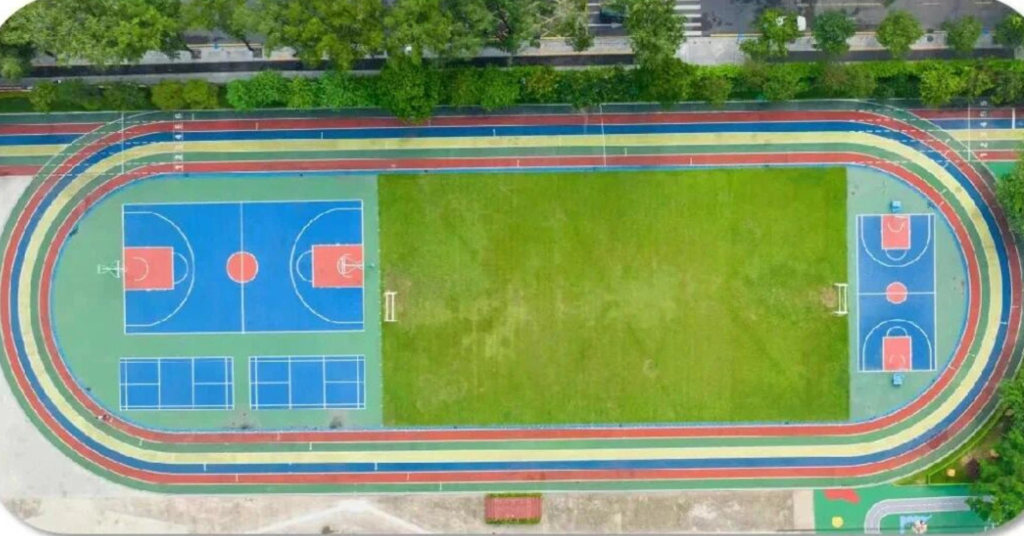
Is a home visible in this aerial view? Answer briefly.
No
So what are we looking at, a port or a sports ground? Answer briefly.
sports ground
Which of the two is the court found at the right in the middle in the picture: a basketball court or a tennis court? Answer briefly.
basketball court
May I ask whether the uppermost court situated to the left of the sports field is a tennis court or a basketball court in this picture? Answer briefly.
basketball court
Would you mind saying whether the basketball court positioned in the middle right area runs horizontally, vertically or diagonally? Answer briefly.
vertically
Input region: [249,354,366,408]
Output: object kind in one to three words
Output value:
sports court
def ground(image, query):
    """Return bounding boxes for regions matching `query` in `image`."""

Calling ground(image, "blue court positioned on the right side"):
[856,213,936,372]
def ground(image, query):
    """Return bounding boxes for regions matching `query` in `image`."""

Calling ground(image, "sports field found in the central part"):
[377,167,849,424]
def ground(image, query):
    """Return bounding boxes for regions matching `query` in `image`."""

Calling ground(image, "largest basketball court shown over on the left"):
[122,200,365,335]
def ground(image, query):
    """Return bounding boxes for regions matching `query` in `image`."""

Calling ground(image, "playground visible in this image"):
[813,477,1024,536]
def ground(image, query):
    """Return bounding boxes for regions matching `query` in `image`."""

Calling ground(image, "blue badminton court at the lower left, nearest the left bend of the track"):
[119,356,234,410]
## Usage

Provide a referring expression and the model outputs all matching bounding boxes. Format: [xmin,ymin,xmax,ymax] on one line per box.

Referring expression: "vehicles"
[599,3,630,24]
[794,16,804,33]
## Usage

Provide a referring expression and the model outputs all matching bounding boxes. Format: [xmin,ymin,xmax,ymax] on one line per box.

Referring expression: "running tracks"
[0,98,1024,494]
